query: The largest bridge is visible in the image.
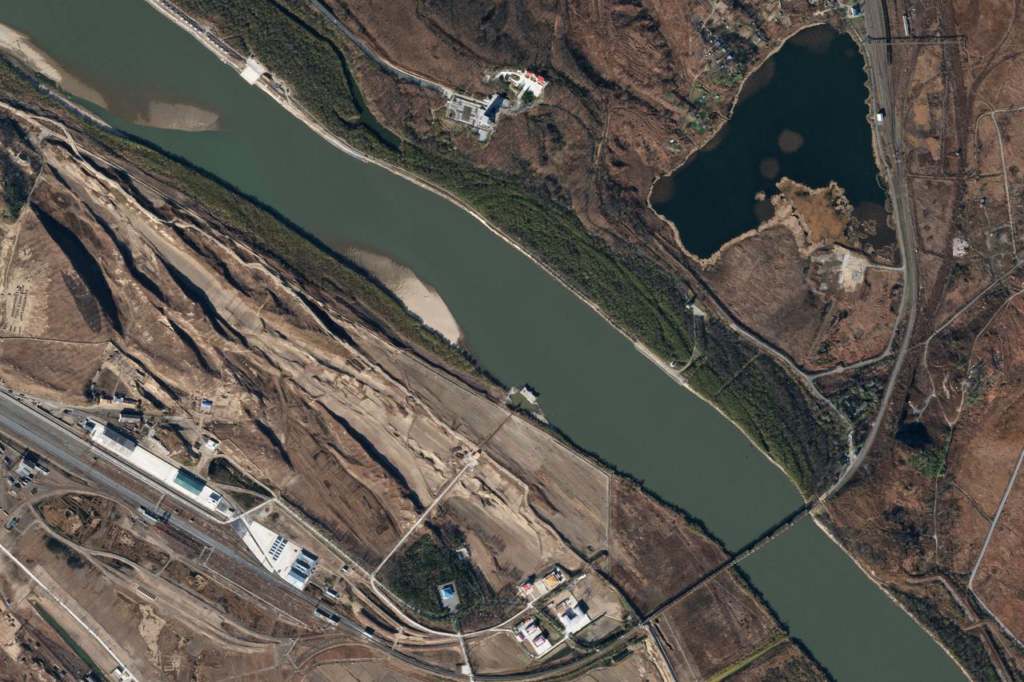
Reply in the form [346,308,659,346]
[642,503,820,624]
